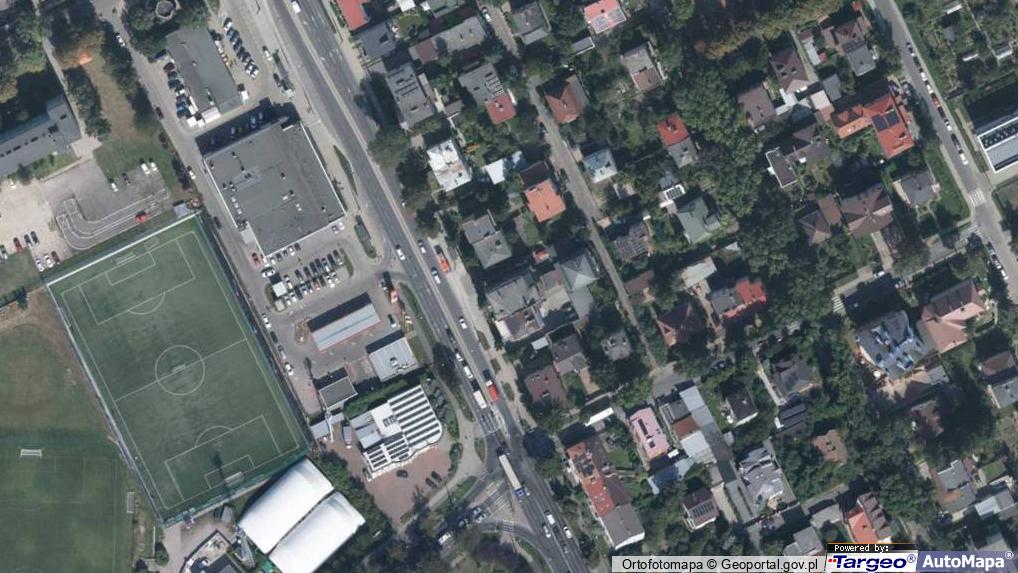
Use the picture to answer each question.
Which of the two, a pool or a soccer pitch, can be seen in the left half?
soccer pitch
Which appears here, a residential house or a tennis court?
residential house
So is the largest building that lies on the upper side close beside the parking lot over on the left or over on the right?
left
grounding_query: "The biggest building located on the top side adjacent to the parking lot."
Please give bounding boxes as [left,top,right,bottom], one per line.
[203,117,346,259]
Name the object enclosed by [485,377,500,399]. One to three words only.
vehicle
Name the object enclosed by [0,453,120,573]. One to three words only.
soccer field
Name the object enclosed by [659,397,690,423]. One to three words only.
building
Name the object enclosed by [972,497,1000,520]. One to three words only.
house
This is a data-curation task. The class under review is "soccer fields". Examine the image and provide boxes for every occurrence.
[48,215,311,524]
[0,453,120,573]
